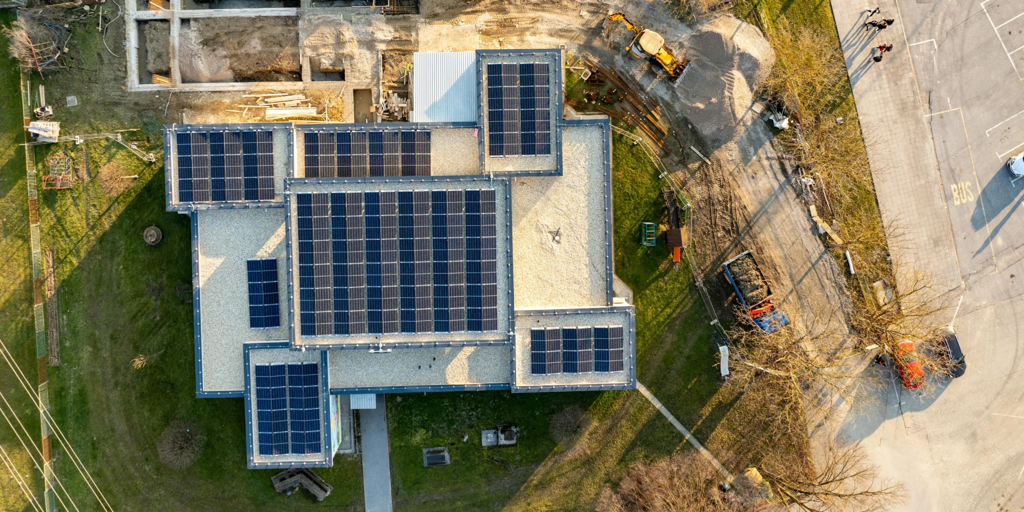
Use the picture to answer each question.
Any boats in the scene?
No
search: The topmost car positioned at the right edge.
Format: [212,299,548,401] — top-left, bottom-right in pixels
[1002,147,1024,177]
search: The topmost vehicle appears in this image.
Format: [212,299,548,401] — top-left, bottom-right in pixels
[598,9,691,92]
